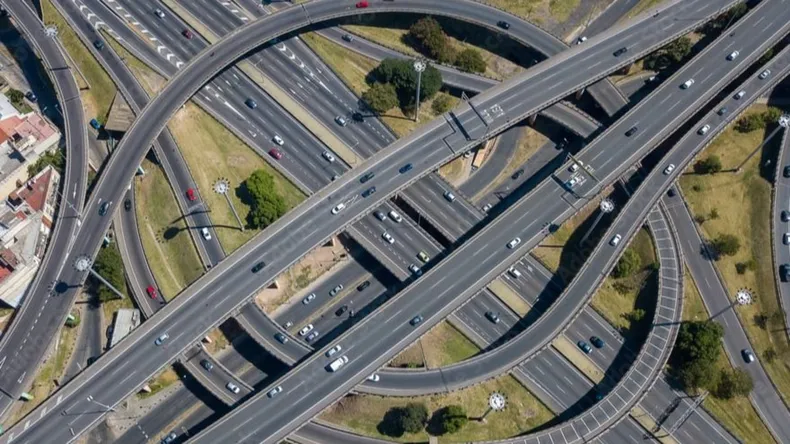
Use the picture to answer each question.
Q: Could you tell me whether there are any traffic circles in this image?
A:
No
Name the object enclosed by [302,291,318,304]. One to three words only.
vehicle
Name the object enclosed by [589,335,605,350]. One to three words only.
car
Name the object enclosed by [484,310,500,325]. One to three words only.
car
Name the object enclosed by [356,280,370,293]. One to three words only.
vehicle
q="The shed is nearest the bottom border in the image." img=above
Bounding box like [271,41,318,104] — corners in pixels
[111,308,145,345]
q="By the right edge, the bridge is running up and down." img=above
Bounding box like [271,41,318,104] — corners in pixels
[770,119,790,342]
